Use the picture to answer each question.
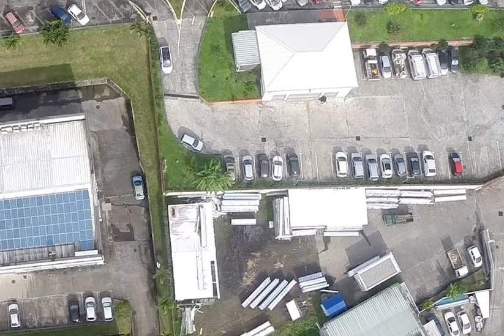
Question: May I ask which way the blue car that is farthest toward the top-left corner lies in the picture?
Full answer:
The blue car that is farthest toward the top-left corner is oriented diagonally.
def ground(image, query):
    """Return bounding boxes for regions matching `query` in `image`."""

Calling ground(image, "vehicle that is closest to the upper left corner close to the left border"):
[5,11,23,34]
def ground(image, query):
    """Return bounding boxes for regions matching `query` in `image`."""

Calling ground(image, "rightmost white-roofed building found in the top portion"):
[254,21,358,102]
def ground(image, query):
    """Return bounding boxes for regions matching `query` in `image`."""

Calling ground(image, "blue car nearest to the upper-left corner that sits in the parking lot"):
[49,3,72,25]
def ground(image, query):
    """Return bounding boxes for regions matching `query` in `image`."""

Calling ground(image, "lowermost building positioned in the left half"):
[164,202,219,300]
